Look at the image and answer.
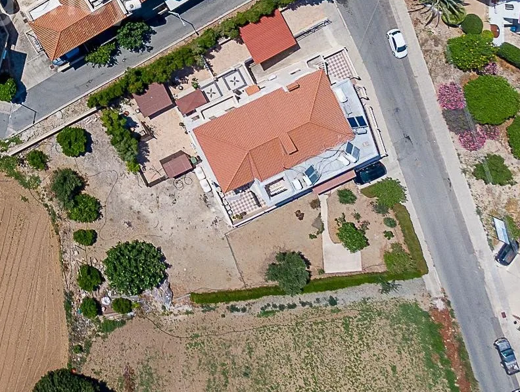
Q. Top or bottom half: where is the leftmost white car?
top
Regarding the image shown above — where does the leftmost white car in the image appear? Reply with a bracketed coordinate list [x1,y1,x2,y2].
[387,28,408,58]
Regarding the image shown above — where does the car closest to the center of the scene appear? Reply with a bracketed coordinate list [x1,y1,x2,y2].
[355,163,386,184]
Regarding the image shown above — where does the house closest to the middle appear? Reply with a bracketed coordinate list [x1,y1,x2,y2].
[181,47,391,229]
